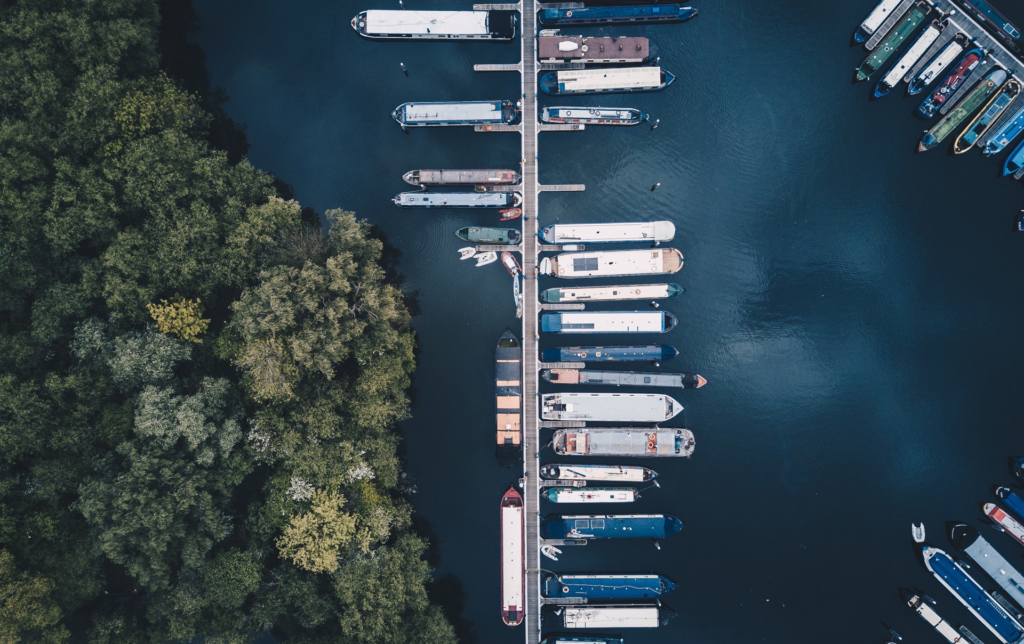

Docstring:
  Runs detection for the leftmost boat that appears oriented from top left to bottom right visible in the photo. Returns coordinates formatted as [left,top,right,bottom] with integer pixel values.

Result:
[501,252,523,280]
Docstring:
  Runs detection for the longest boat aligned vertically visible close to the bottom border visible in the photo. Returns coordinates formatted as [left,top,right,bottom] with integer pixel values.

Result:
[499,483,524,627]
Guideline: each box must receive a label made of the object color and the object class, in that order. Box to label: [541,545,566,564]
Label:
white boat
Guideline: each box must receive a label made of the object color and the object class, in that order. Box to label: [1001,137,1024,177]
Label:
blue boat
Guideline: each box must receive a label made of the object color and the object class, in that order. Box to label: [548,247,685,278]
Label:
white ship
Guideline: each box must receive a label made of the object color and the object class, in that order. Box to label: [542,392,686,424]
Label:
white ship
